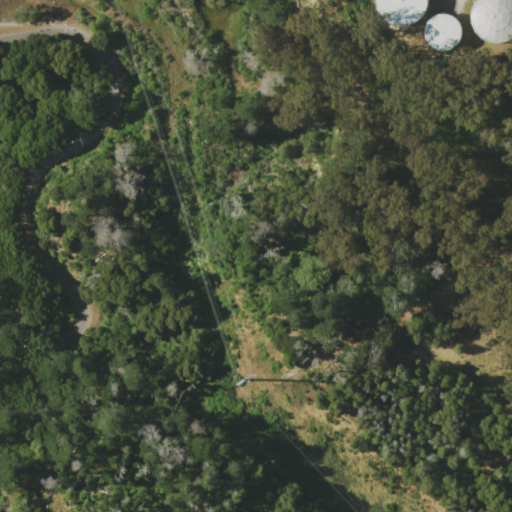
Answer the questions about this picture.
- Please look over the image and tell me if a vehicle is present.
No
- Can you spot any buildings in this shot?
No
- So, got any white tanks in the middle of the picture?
No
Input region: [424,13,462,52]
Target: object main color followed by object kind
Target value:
white storage tank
